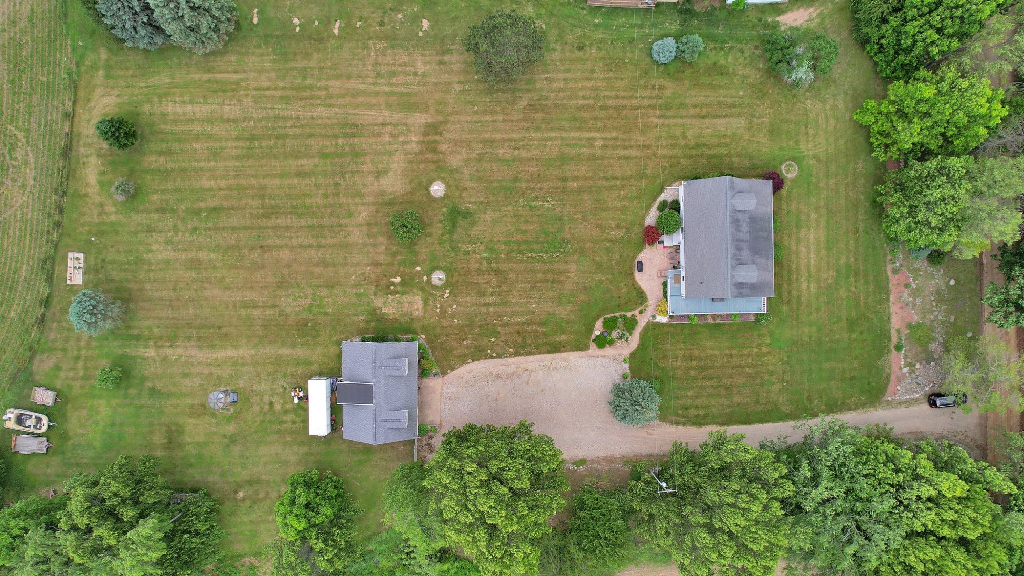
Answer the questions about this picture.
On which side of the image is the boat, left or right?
left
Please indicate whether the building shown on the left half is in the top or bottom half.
bottom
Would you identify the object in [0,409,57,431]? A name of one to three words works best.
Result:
boat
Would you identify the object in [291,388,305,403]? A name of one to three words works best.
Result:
work vehicle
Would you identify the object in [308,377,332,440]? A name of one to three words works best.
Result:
trailer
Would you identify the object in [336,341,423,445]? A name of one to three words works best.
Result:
building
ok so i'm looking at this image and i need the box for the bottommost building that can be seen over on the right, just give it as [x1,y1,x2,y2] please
[659,175,775,315]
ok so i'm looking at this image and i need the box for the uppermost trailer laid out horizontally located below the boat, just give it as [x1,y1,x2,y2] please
[9,432,56,455]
